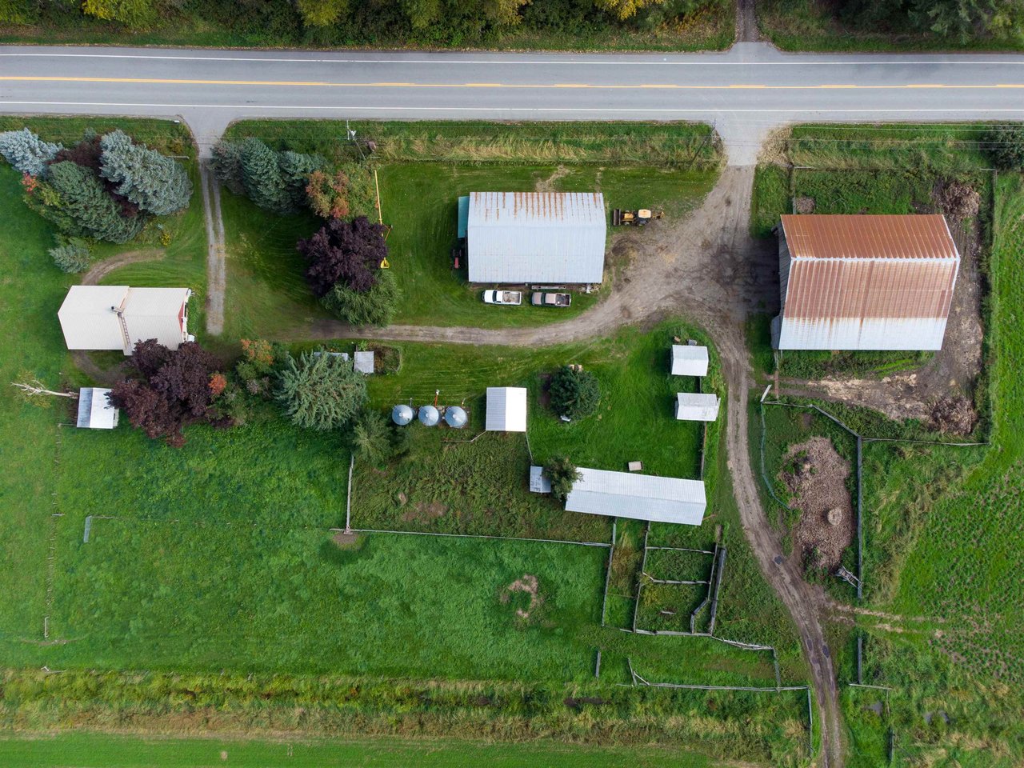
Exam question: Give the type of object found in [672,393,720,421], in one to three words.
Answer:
shed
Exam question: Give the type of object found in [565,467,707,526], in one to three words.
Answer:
shed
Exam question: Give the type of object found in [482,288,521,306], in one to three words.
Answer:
vehicle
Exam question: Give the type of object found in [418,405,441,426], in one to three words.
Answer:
silo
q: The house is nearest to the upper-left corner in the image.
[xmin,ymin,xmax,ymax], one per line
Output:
[58,285,194,357]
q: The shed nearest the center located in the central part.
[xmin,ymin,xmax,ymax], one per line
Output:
[486,387,527,432]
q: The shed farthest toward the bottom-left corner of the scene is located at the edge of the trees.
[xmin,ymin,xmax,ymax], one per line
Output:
[77,388,122,429]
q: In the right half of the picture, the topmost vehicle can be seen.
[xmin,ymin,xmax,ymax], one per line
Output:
[613,210,657,228]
